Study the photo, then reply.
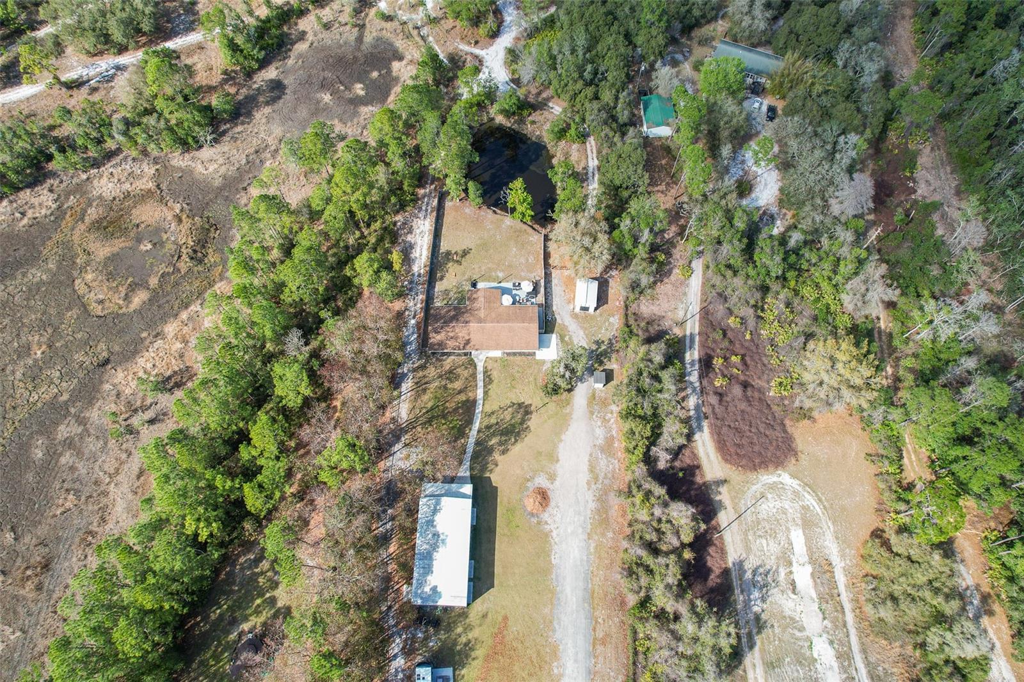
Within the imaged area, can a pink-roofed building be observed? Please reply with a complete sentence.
No, this view has no pink-roofed building in it.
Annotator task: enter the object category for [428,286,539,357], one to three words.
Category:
house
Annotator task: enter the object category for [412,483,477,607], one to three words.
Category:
building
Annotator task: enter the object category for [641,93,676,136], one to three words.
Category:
building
